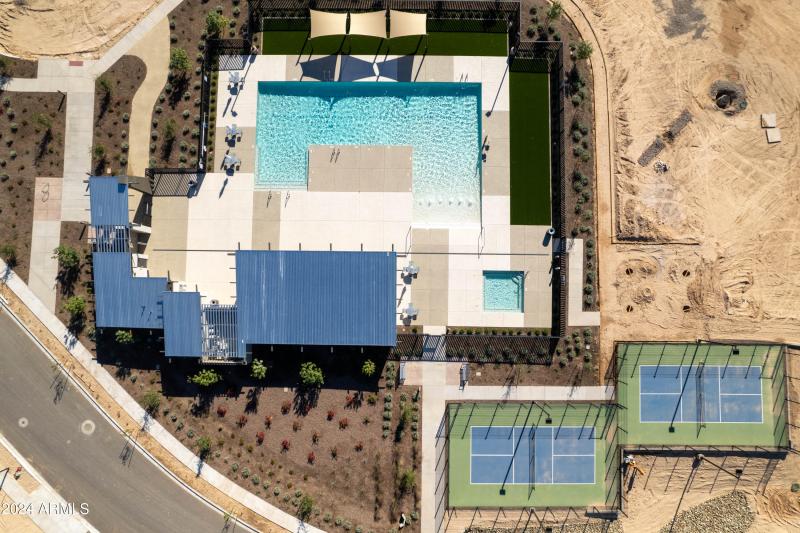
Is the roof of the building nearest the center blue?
Yes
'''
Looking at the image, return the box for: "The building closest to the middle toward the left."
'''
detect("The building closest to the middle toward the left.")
[229,242,404,357]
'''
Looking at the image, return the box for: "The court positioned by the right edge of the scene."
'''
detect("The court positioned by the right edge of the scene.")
[616,342,788,448]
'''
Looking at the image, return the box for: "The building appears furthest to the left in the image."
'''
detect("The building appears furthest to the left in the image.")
[82,175,203,334]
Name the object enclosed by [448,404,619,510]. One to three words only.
sports court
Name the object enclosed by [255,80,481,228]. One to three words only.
swimming pool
